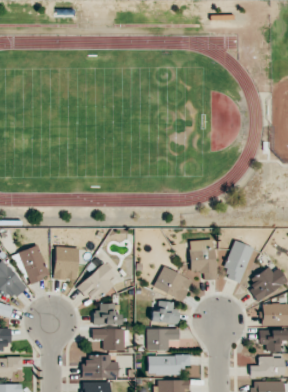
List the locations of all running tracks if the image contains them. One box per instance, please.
[0,35,263,207]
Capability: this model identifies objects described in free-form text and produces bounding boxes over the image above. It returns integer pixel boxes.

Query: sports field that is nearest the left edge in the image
[0,50,248,192]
